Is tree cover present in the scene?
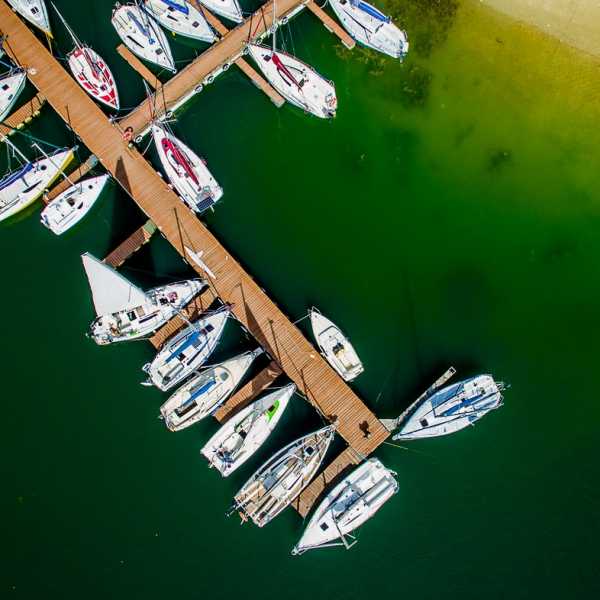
No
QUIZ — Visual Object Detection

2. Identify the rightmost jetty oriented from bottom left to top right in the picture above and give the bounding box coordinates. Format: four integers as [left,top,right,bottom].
[292,449,366,520]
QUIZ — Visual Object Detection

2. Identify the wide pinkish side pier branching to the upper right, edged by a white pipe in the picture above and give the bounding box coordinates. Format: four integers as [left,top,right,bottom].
[117,0,308,144]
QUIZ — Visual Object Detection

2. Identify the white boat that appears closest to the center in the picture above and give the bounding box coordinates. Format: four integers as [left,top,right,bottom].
[285,305,366,386]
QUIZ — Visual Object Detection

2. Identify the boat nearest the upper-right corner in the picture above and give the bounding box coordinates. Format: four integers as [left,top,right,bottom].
[322,0,414,68]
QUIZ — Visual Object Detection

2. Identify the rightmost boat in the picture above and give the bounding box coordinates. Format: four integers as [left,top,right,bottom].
[388,378,509,441]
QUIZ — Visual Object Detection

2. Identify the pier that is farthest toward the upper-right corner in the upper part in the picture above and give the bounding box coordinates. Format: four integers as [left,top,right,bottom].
[301,0,355,50]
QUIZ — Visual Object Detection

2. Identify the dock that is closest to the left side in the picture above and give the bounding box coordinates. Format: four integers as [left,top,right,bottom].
[0,92,51,142]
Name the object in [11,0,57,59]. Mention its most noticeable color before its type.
white boat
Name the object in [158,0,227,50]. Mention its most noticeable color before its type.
white boat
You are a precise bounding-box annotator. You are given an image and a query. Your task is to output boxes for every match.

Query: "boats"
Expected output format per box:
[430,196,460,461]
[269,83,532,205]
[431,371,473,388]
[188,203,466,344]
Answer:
[224,420,340,524]
[0,105,91,224]
[11,0,57,59]
[202,367,321,476]
[158,0,227,50]
[236,0,340,127]
[39,147,117,236]
[203,0,258,32]
[84,253,210,351]
[0,59,42,126]
[112,0,202,84]
[141,298,240,393]
[56,7,130,124]
[322,0,414,68]
[289,455,401,560]
[154,345,278,432]
[388,378,509,441]
[285,305,366,386]
[141,80,223,214]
